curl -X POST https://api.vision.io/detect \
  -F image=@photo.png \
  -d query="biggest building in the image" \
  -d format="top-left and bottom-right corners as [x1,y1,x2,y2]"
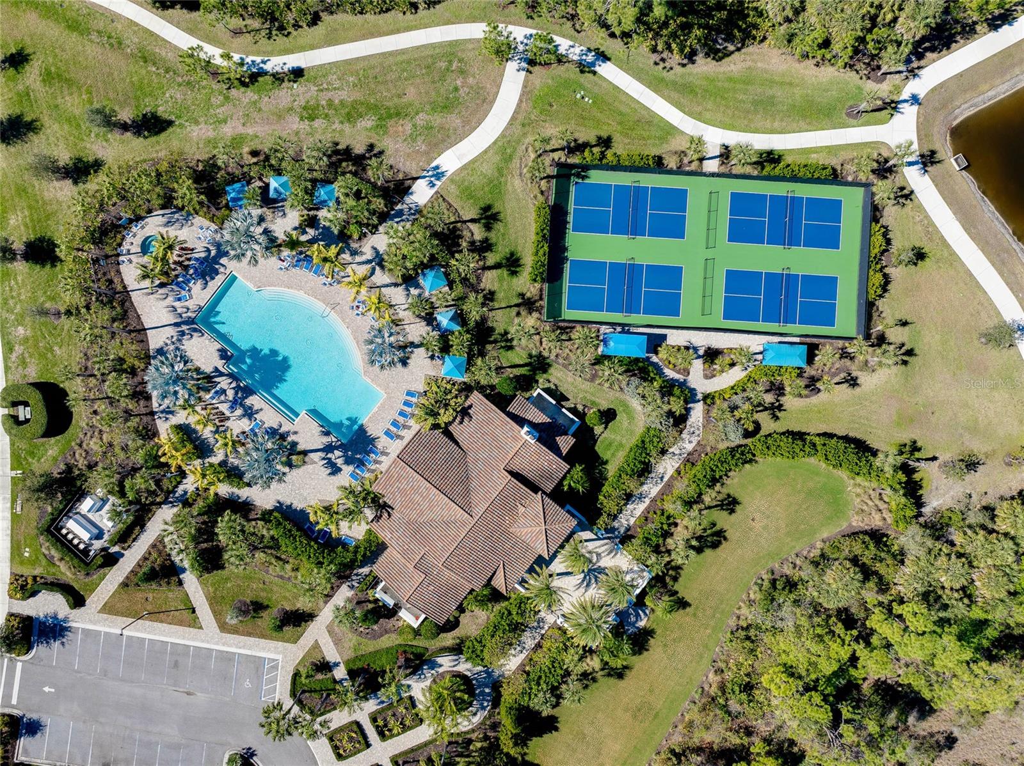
[369,390,580,630]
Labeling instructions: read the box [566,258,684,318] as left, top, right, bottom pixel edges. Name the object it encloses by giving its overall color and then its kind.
blue sports court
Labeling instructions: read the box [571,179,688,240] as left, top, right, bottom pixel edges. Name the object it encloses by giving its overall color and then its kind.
blue sports court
